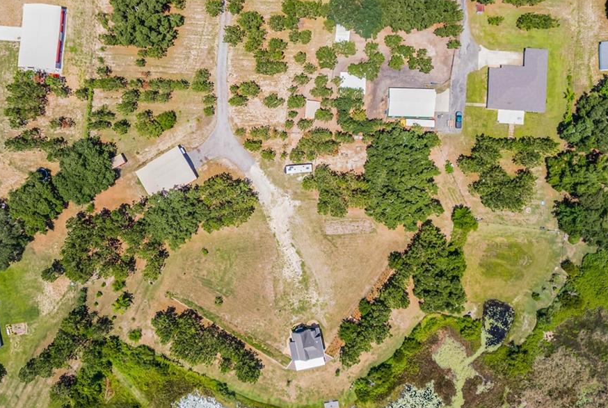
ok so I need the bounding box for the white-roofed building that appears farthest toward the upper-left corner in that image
[18,3,66,73]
